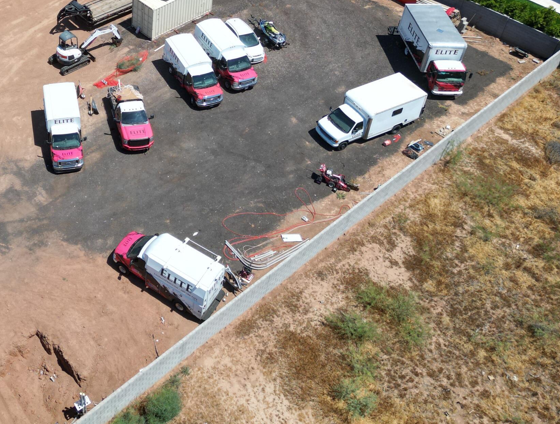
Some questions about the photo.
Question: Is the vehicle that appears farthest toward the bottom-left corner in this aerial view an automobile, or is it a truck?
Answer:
truck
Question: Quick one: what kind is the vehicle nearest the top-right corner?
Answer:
truck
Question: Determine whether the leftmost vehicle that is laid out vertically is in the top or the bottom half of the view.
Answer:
top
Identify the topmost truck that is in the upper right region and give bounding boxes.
[397,4,475,97]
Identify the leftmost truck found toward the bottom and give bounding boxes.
[111,229,228,321]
